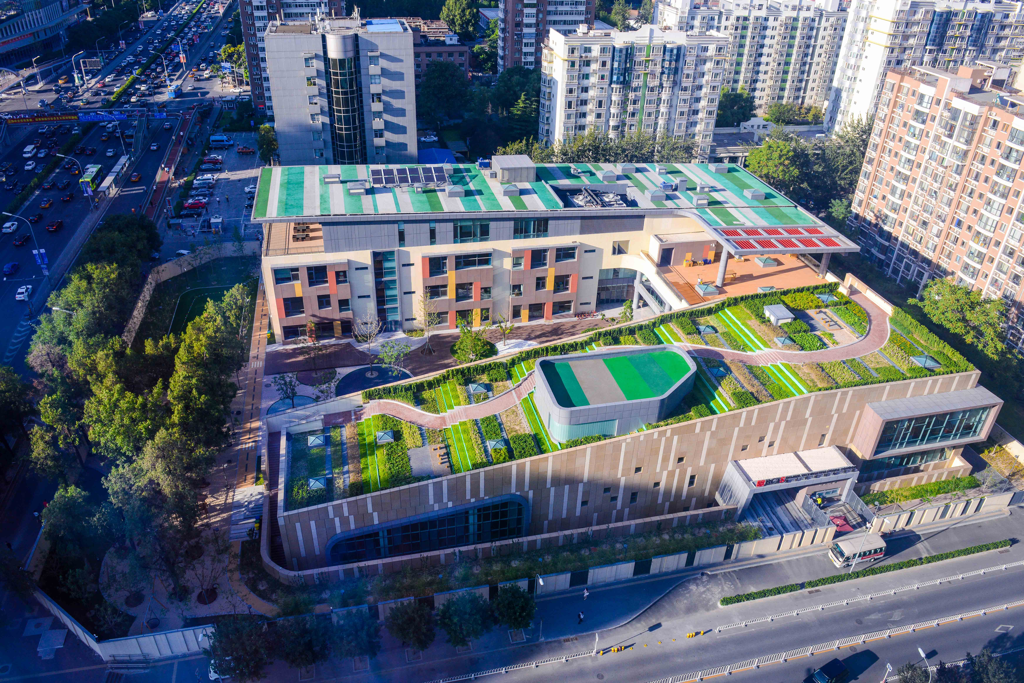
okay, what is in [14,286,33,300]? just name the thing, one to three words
car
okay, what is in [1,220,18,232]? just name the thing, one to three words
vehicle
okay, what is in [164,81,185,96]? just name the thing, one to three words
vehicle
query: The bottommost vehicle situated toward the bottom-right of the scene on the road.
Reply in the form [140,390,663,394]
[801,650,855,683]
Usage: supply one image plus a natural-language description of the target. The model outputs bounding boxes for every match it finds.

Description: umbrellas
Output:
[830,518,856,541]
